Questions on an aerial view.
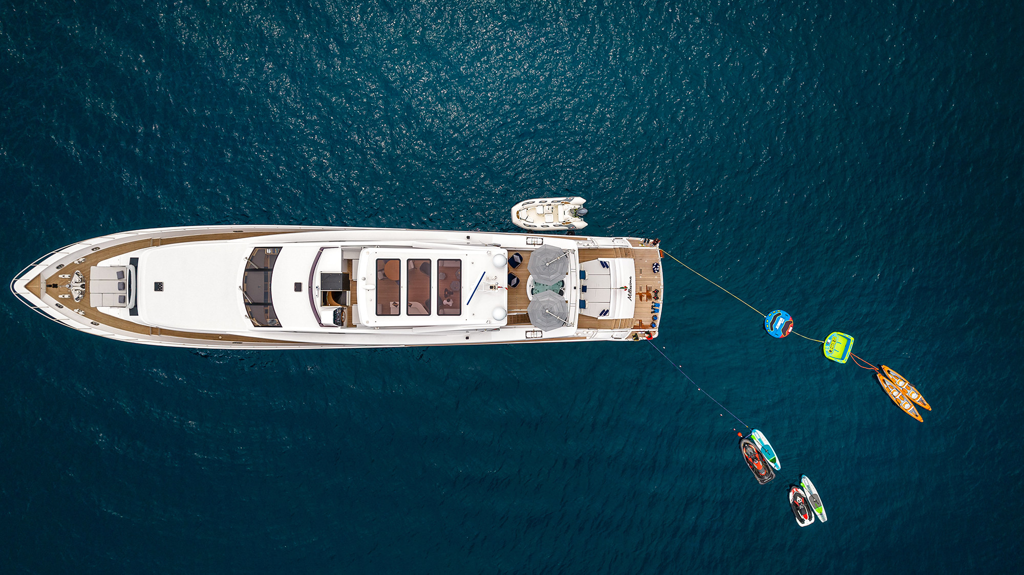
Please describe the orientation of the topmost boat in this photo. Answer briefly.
from left to right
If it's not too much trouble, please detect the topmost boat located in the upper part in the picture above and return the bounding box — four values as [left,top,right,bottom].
[511,196,588,231]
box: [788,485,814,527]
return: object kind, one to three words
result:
boat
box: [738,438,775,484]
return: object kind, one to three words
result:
boat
